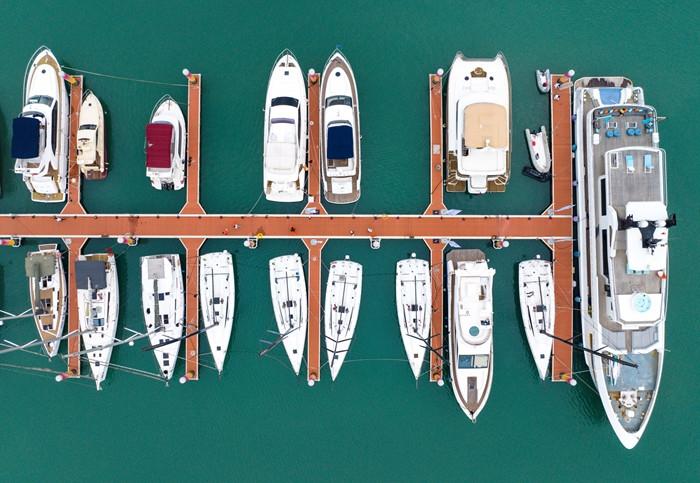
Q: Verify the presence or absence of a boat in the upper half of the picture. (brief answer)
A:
Yes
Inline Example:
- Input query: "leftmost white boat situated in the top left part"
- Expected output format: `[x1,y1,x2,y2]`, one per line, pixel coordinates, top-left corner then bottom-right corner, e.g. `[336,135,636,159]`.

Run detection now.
[11,46,70,202]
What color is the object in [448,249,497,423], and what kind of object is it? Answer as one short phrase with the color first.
white boat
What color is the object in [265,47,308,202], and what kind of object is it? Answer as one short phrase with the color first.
white boat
